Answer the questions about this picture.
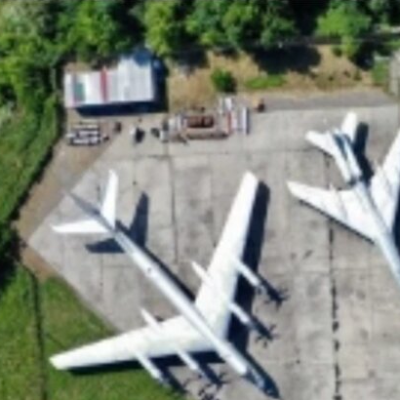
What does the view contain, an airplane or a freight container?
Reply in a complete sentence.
It is an airplane that can be seen here.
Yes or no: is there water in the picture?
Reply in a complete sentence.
No, the picture contains no water.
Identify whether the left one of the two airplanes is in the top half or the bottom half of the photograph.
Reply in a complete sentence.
The left one of the two airplanes is in the bottom half of the image.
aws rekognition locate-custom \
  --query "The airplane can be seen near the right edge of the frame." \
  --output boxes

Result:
[288,109,400,285]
